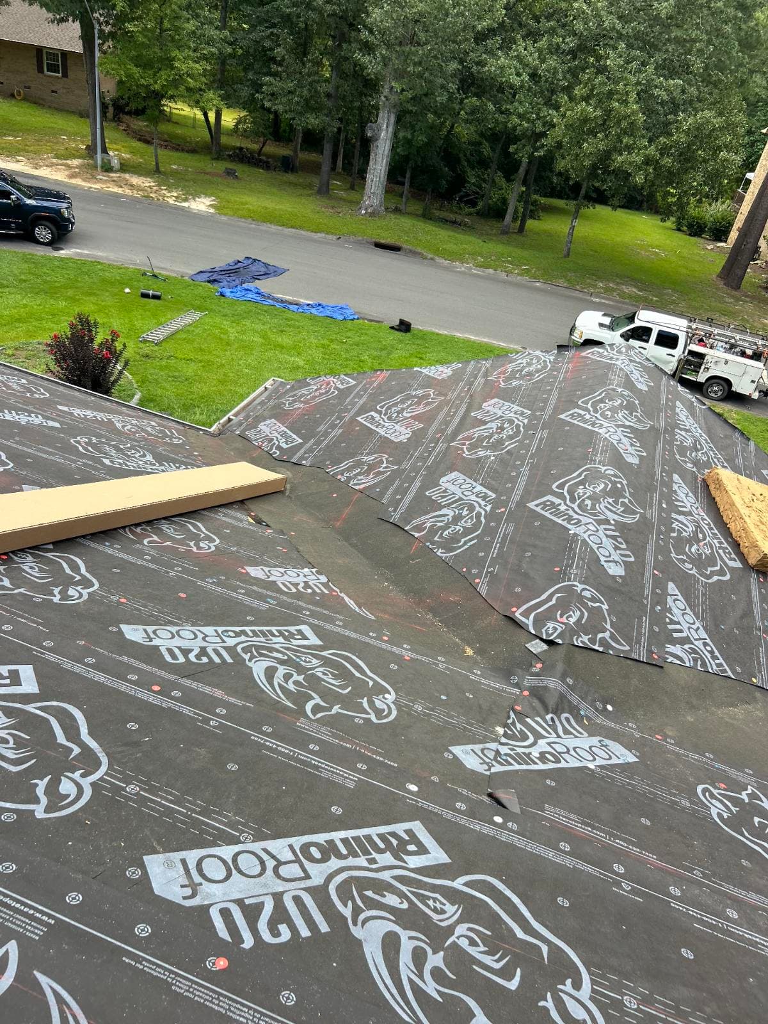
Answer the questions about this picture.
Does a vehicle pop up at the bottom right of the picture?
No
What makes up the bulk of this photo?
buildings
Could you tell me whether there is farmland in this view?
No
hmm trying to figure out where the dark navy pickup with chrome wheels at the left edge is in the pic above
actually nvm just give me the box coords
[0,165,81,244]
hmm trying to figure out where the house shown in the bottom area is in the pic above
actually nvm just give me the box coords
[0,341,768,1024]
